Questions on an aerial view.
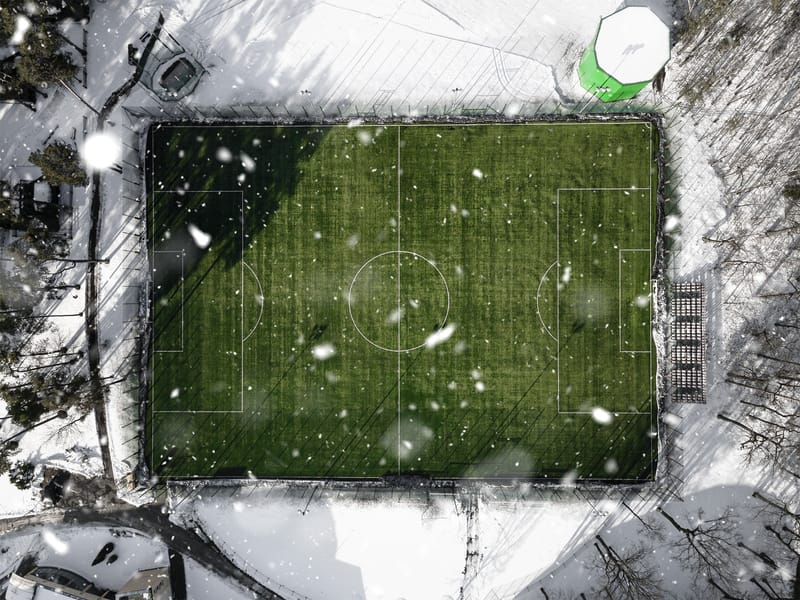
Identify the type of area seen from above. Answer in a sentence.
What you see here is a sports ground.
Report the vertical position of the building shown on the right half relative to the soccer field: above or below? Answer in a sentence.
In the image, the building shown on the right half appears above the soccer field.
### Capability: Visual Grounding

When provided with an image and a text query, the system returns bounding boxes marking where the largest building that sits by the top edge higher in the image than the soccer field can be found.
[580,5,672,102]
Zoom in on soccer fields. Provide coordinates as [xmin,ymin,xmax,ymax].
[139,112,668,489]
